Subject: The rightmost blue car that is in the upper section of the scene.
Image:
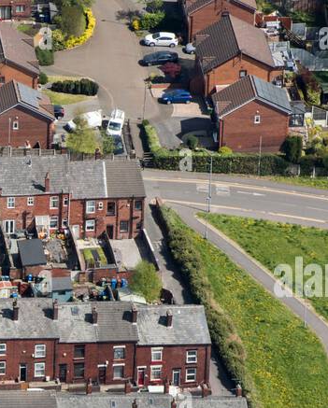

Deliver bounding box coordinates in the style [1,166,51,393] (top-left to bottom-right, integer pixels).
[160,88,193,103]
